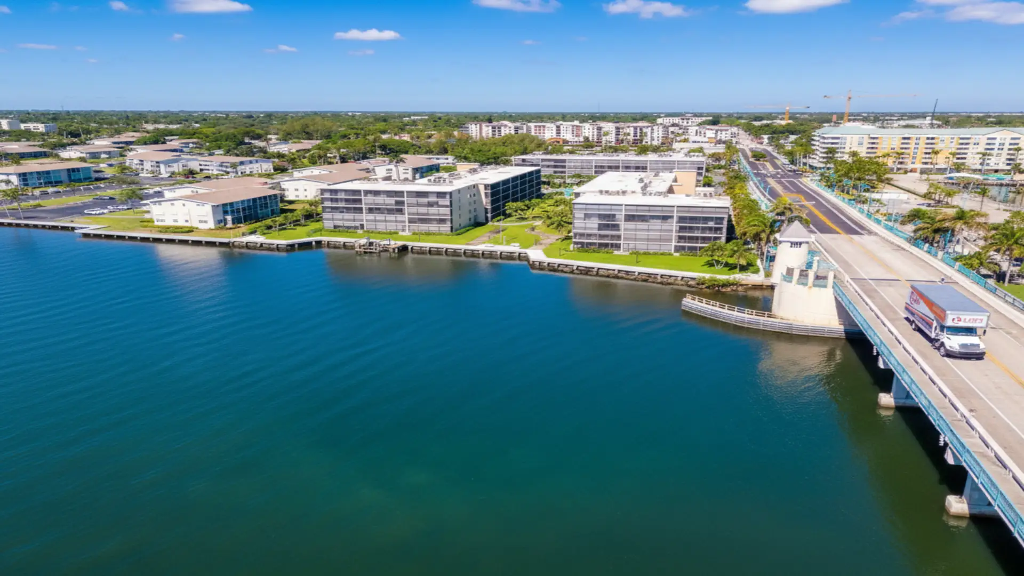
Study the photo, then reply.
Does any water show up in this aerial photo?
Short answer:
Yes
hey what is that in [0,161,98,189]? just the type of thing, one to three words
house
